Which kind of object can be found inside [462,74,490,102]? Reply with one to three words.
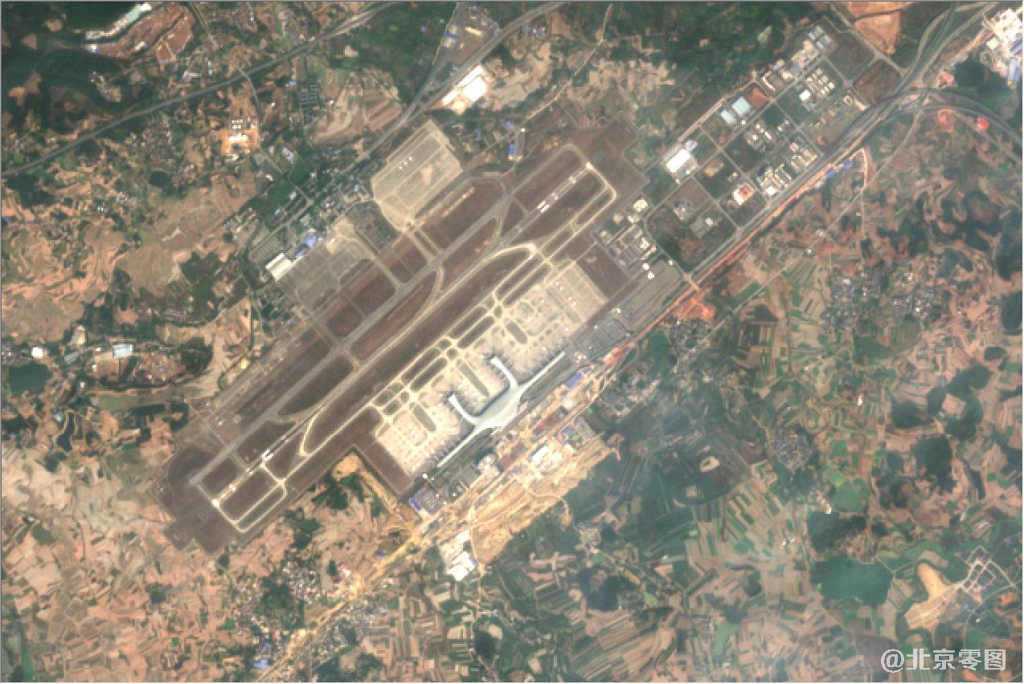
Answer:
building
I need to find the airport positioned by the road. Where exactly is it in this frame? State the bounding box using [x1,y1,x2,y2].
[157,106,649,555]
